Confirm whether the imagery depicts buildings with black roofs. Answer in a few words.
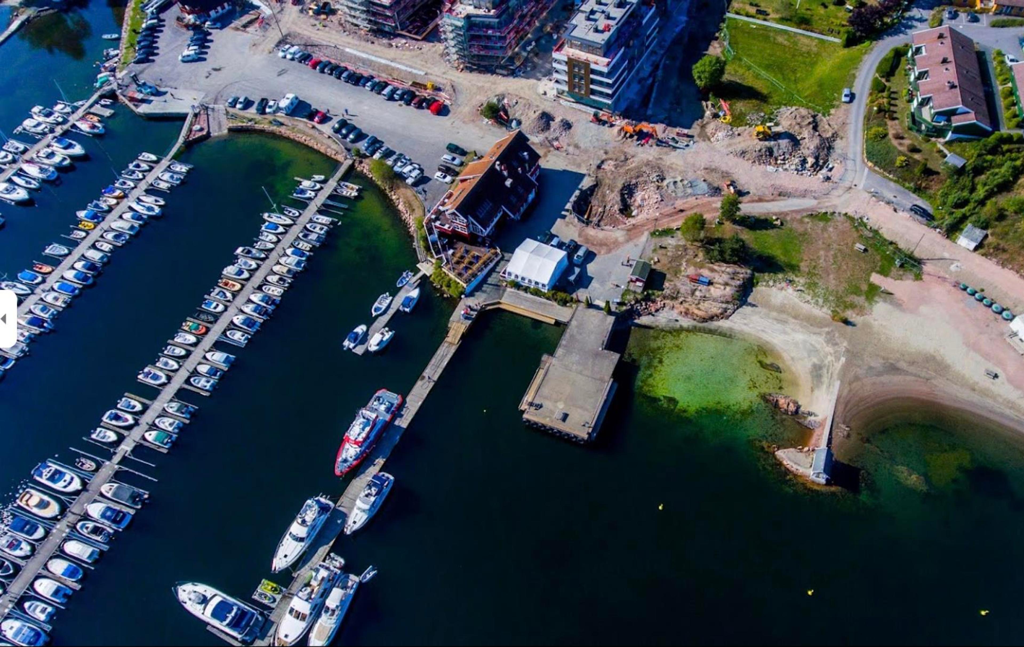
Yes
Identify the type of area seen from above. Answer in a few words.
port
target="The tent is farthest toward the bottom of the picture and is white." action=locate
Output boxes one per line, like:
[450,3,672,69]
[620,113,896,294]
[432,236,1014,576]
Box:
[1002,315,1024,358]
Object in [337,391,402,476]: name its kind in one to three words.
ship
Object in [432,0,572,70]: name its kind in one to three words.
building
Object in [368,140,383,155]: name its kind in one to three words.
car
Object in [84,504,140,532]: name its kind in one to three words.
boat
